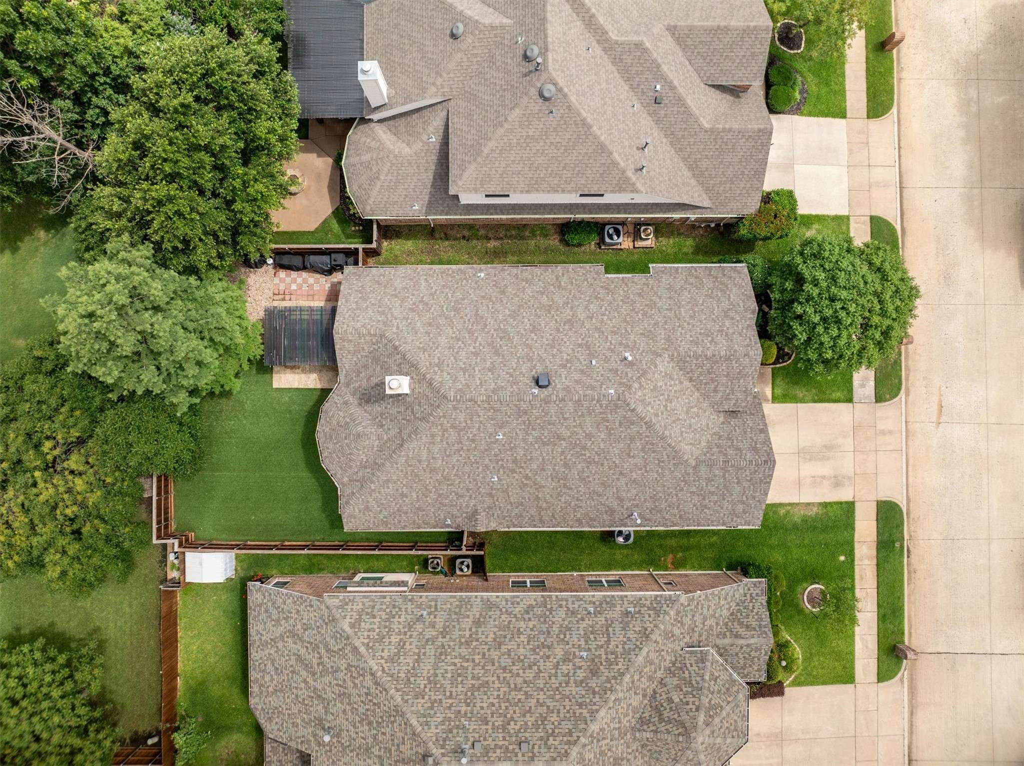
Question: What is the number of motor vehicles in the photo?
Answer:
zero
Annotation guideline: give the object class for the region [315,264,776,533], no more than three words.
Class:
house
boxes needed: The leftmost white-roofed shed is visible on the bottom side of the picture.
[185,553,238,584]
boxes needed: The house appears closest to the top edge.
[342,0,773,231]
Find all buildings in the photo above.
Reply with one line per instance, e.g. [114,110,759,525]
[342,0,773,231]
[247,564,773,766]
[315,264,776,533]
[185,553,238,584]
